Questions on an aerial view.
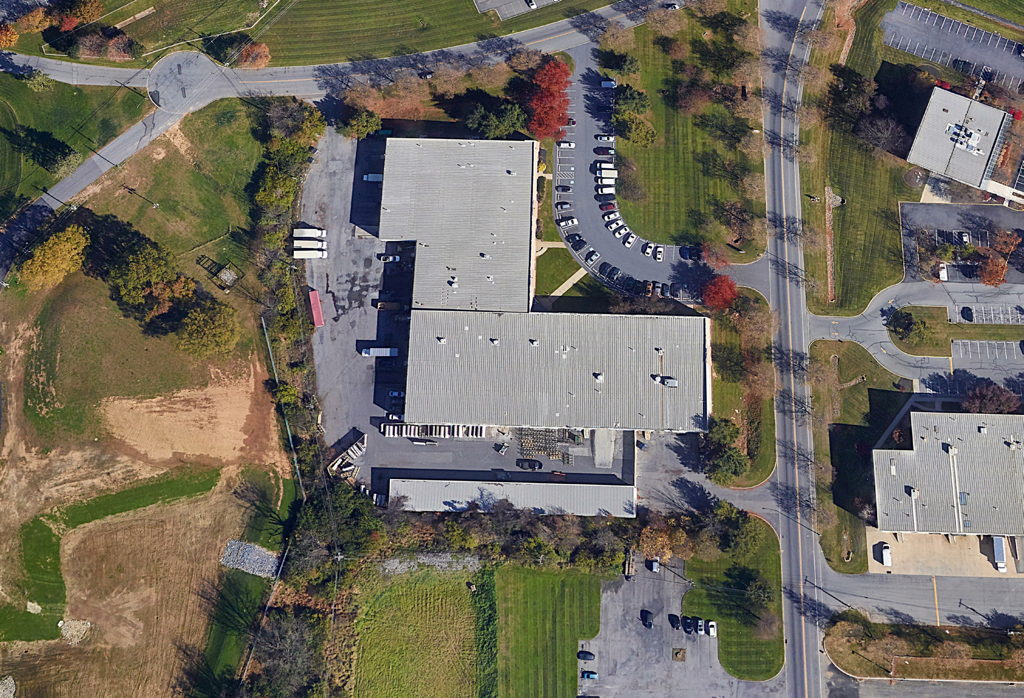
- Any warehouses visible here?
Yes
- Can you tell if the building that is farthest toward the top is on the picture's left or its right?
right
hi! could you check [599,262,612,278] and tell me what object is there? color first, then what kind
black vehicle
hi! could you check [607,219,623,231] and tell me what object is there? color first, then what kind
white vehicle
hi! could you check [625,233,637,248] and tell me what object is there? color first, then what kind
white vehicle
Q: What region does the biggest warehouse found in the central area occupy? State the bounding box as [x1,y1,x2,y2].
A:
[378,137,713,433]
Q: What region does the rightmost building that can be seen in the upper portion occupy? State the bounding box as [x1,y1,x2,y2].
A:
[907,87,1016,192]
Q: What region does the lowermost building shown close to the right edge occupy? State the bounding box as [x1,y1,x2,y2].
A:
[873,412,1024,561]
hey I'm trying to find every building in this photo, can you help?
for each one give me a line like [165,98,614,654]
[873,412,1024,561]
[907,87,1016,192]
[388,479,638,519]
[378,137,713,433]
